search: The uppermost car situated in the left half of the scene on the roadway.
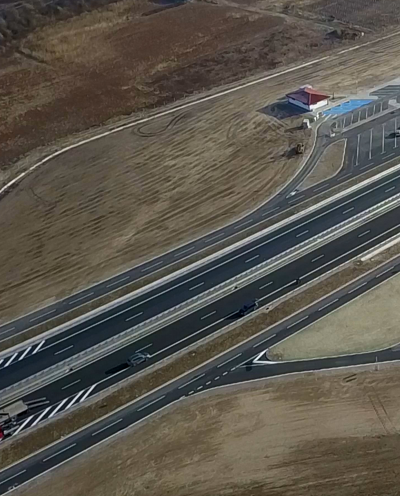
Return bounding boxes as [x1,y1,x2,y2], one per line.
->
[125,352,149,368]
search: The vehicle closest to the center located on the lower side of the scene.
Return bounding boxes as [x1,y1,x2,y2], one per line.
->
[236,301,257,315]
